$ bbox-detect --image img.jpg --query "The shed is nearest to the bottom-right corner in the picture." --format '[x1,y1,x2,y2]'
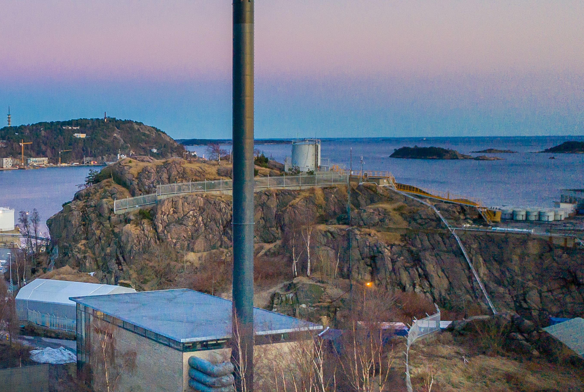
[543,316,584,359]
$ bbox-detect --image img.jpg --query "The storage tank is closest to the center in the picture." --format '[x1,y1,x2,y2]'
[291,138,323,169]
